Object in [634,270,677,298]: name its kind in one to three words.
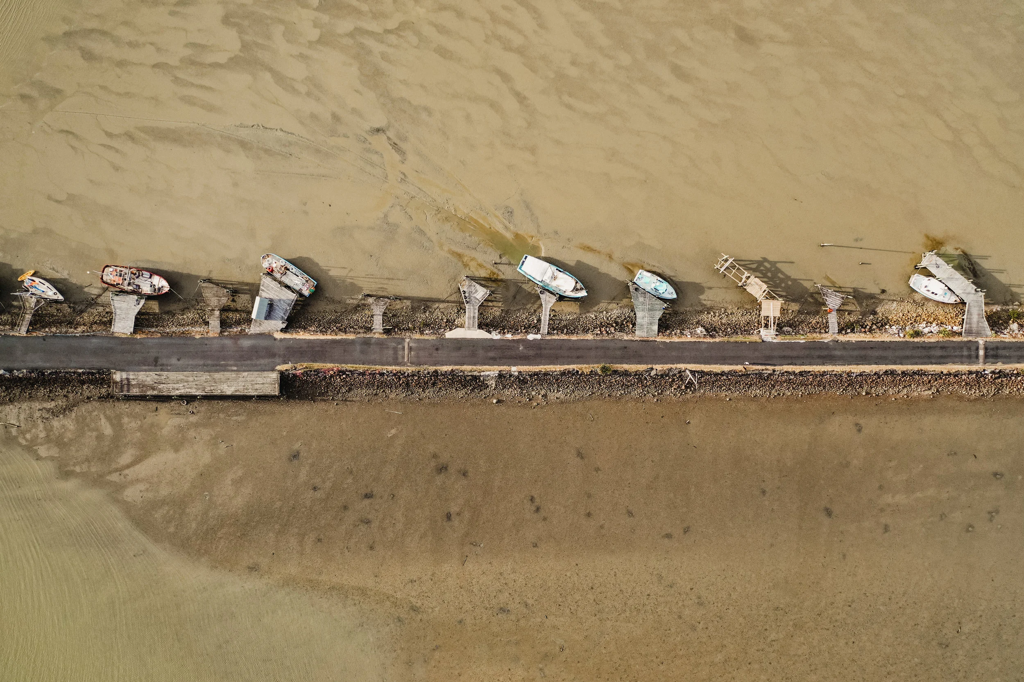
boat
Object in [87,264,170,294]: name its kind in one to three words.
boat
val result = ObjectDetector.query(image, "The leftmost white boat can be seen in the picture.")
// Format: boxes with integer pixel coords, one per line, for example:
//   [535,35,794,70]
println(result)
[9,278,65,301]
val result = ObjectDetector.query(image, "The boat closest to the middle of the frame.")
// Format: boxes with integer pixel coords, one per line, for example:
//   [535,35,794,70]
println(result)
[516,253,588,299]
